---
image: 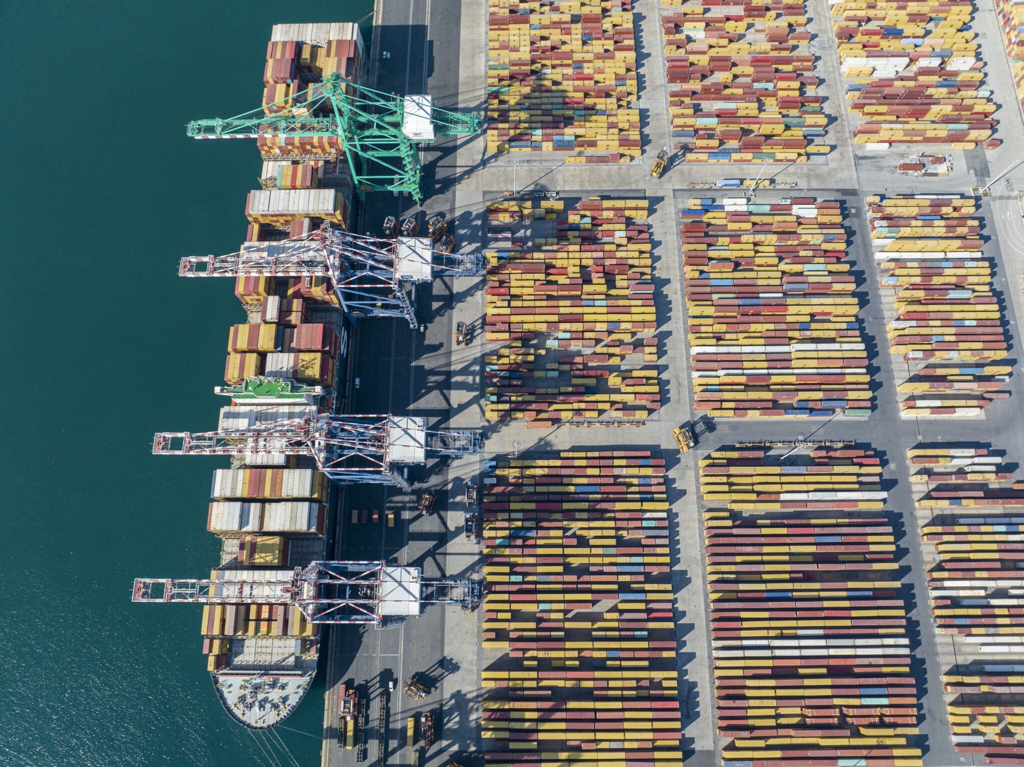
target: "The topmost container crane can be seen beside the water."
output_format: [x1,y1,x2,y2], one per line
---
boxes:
[184,65,484,203]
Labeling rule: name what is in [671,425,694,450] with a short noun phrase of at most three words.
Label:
work vehicle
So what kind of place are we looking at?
port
